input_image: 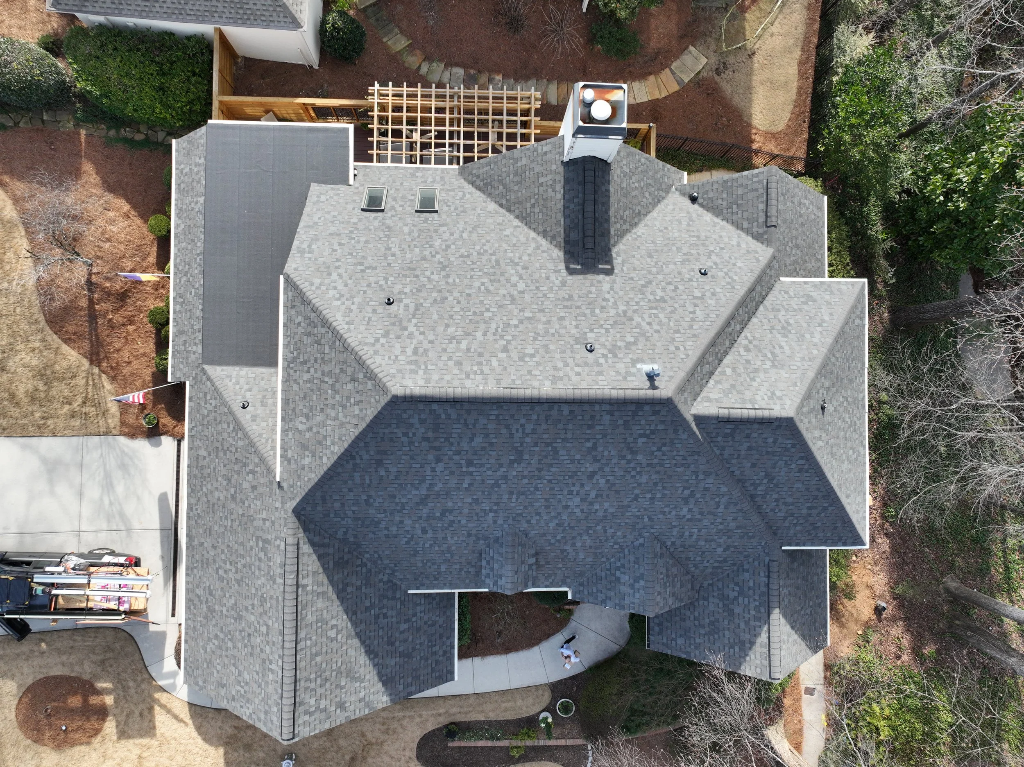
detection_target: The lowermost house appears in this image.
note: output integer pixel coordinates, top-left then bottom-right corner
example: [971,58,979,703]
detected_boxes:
[166,81,873,749]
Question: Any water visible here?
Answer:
No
